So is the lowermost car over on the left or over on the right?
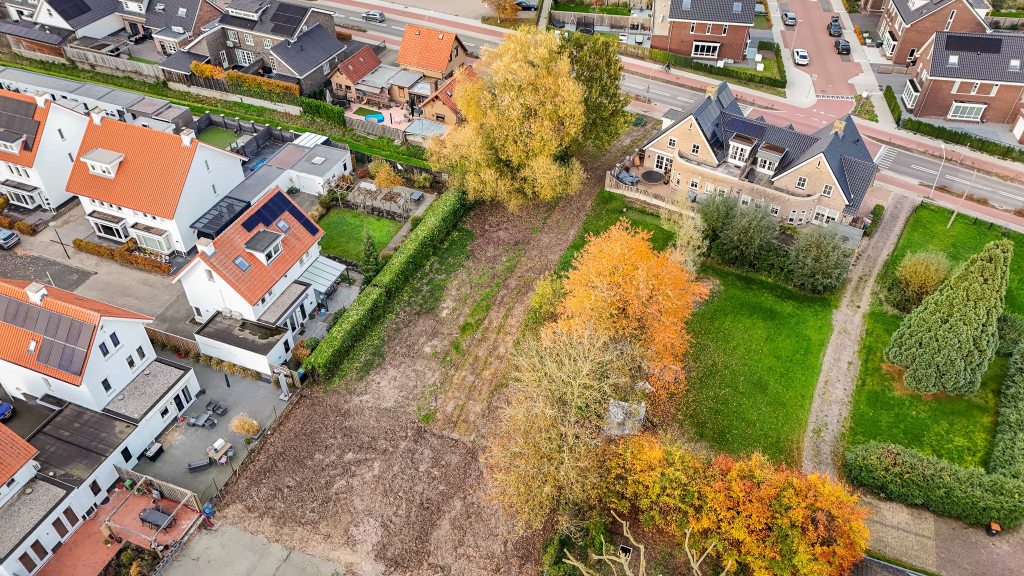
left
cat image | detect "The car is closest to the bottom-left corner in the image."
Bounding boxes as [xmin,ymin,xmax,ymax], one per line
[0,396,26,421]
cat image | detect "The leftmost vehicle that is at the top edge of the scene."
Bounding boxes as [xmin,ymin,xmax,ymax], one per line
[360,10,383,23]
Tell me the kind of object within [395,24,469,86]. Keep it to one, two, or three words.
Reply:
house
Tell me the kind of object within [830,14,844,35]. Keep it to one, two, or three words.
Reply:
car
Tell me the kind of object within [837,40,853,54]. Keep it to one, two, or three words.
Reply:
car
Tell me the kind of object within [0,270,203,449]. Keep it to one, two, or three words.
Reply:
house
